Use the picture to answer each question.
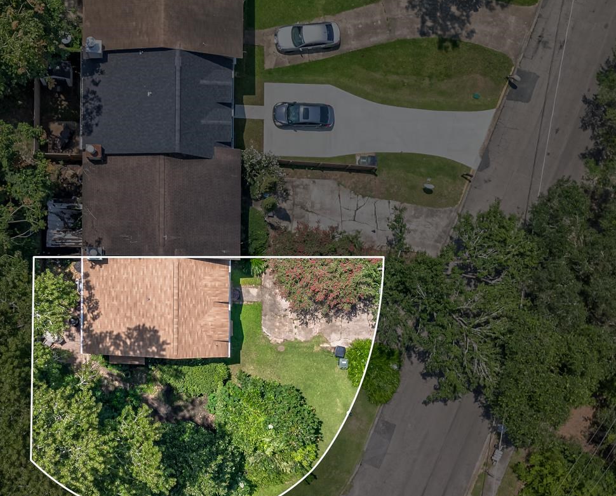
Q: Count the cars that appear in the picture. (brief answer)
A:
2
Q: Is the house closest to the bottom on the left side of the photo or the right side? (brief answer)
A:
left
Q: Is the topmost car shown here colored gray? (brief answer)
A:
Yes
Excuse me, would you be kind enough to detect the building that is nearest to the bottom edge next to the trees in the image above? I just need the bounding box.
[79,246,245,366]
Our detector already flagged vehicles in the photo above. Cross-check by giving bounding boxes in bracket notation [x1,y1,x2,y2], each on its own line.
[273,98,336,130]
[274,20,342,54]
